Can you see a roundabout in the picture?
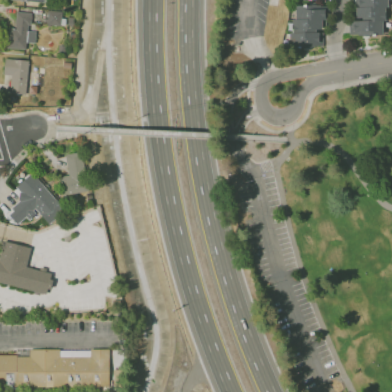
Yes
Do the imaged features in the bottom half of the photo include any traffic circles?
No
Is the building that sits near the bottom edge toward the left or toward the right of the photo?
left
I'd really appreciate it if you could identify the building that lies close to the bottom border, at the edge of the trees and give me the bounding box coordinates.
[0,348,110,386]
